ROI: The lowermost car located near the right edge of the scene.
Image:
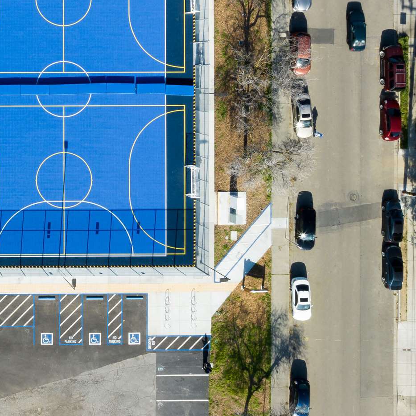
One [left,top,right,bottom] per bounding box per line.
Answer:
[381,245,406,290]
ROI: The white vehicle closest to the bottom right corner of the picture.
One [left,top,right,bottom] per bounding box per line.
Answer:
[290,277,313,320]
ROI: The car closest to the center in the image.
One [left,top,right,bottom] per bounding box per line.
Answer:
[293,207,317,250]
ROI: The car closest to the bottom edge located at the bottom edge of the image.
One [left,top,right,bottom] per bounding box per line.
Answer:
[289,378,311,416]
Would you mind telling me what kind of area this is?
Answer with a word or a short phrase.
sports ground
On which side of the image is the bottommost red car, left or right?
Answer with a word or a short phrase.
right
